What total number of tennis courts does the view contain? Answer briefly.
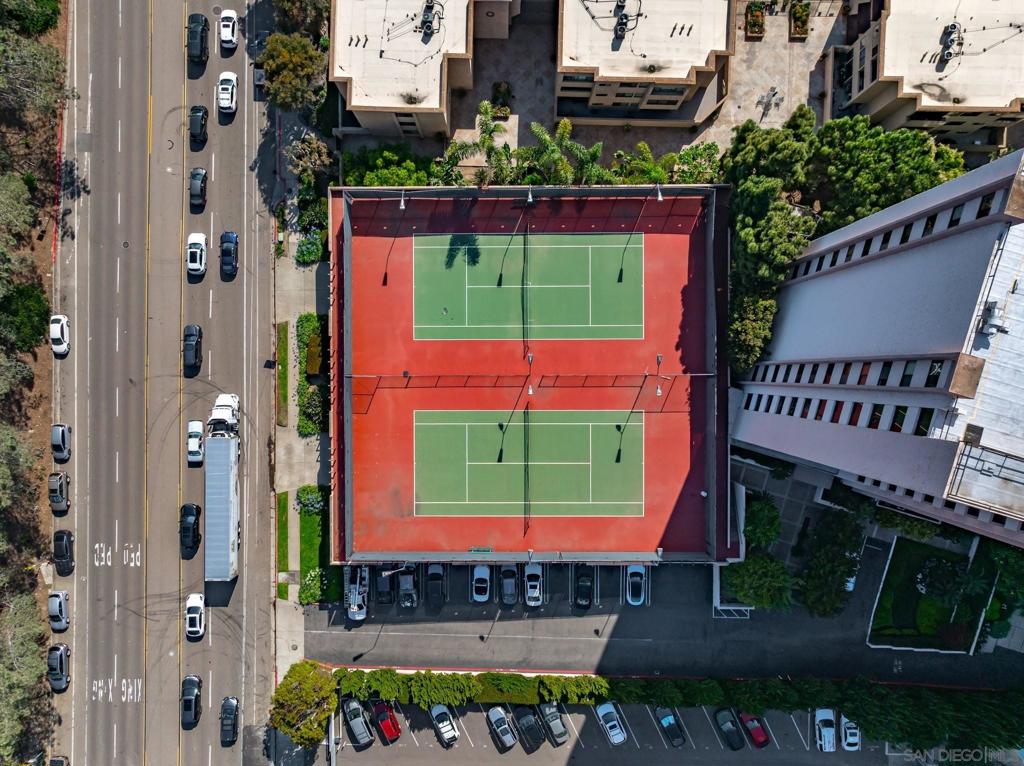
2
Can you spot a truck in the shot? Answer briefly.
Yes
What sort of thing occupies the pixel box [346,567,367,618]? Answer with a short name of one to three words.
vehicle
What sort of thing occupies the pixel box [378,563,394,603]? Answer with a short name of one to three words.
vehicle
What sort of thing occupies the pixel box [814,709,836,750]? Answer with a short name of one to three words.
car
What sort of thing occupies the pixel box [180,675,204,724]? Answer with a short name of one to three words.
car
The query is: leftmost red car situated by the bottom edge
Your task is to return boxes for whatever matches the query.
[374,701,402,742]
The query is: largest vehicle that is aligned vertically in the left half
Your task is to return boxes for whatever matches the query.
[206,391,244,581]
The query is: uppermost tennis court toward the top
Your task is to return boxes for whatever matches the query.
[414,234,643,340]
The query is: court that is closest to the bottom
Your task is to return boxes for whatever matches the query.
[414,411,644,517]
